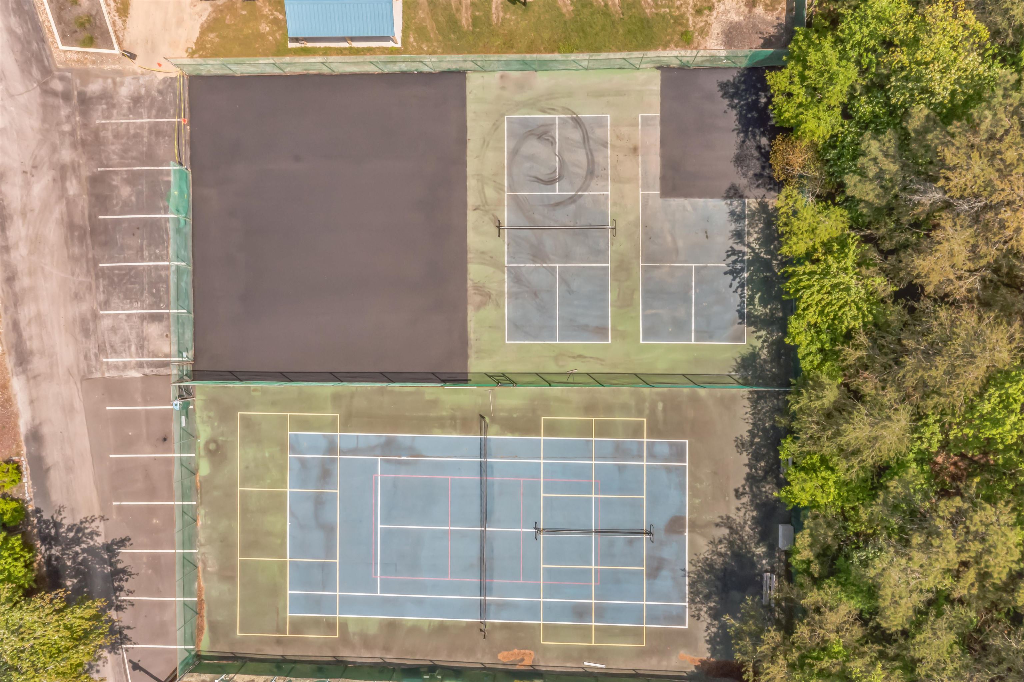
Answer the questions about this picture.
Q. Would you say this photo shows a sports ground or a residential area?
sports ground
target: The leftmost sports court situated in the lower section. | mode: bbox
[237,413,339,637]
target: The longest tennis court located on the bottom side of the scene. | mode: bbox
[288,432,688,628]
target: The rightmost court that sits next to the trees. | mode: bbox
[640,114,747,344]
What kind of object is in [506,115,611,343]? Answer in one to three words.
sports court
